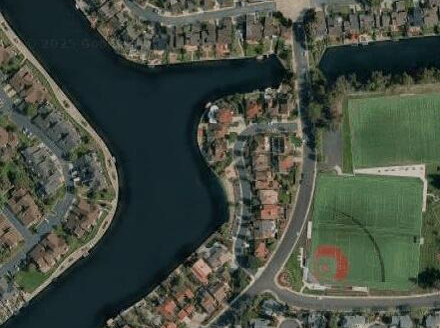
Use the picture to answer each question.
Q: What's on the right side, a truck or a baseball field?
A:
baseball field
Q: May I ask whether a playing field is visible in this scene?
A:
Yes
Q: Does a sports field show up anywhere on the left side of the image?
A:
No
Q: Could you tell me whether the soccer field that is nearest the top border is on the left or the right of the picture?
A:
right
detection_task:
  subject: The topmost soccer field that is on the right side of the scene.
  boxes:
[350,93,440,170]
